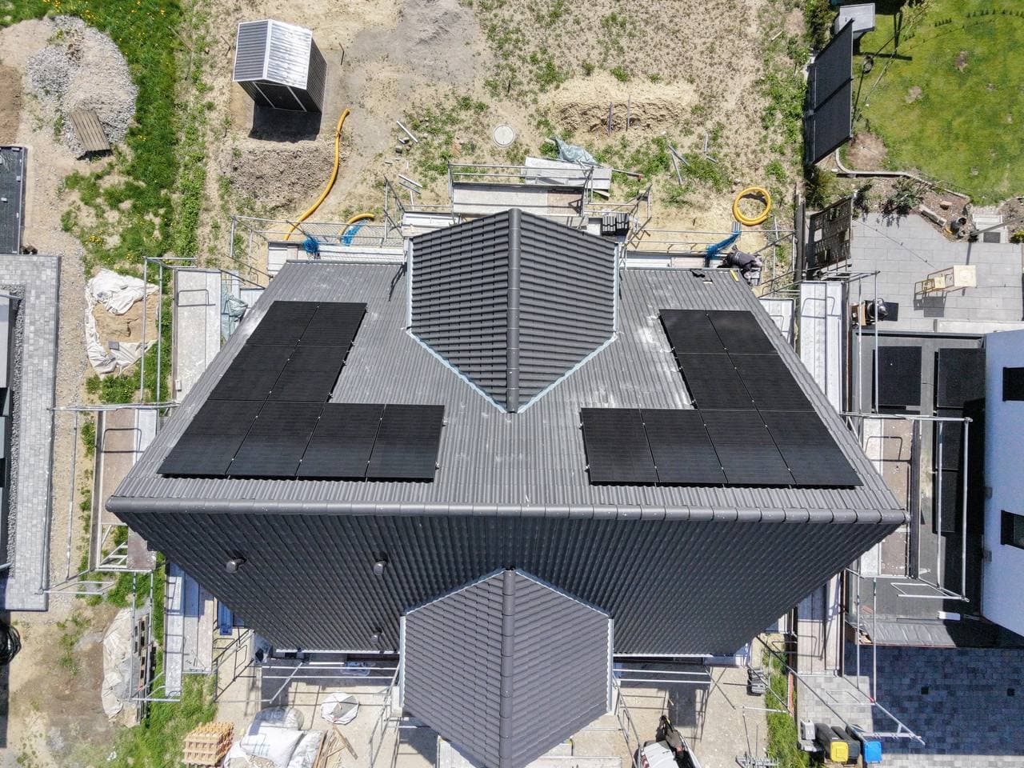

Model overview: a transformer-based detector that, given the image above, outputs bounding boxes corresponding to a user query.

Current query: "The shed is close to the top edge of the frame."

[233,18,326,110]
